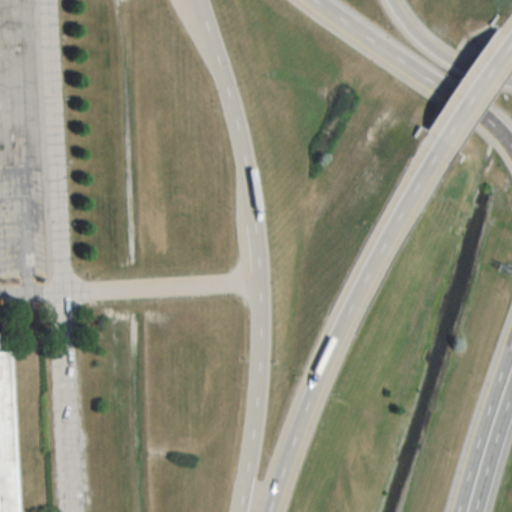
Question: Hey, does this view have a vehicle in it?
Yes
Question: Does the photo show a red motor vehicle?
No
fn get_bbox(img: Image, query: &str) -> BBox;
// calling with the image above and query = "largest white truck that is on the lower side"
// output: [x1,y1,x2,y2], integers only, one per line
[310,336,338,392]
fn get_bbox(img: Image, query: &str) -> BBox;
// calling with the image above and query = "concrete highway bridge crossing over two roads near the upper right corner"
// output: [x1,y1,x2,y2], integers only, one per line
[416,22,512,160]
